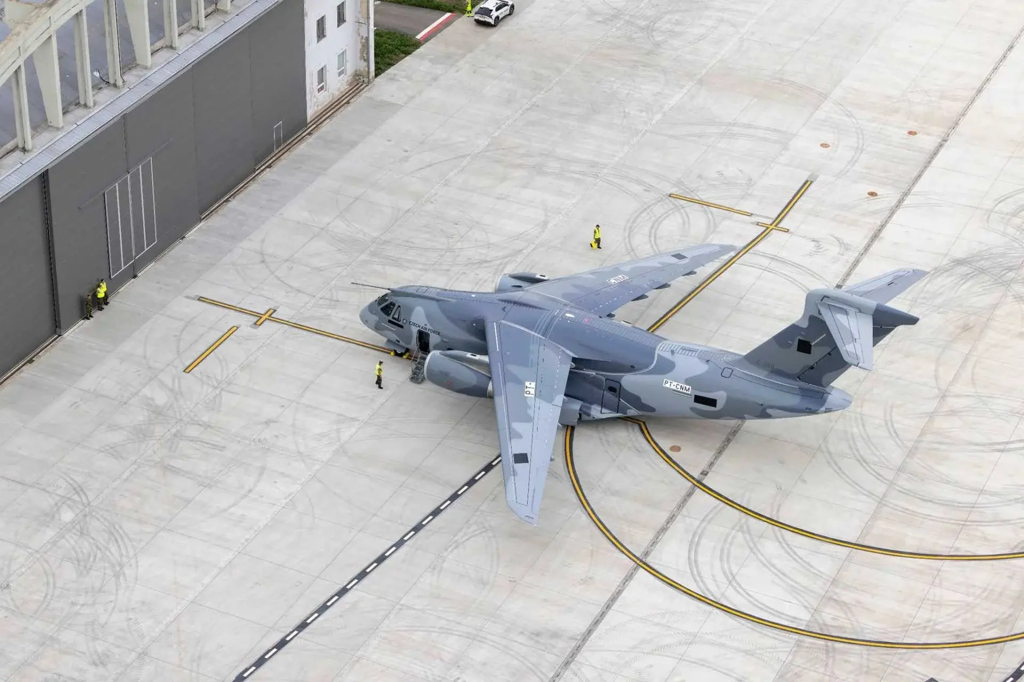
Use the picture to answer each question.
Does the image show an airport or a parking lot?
airport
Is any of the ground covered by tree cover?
No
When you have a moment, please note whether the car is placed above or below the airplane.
above it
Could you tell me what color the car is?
white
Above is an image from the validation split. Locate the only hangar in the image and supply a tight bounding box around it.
[0,0,383,374]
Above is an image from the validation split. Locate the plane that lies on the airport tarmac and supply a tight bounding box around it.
[349,243,927,526]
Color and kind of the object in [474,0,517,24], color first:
white car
